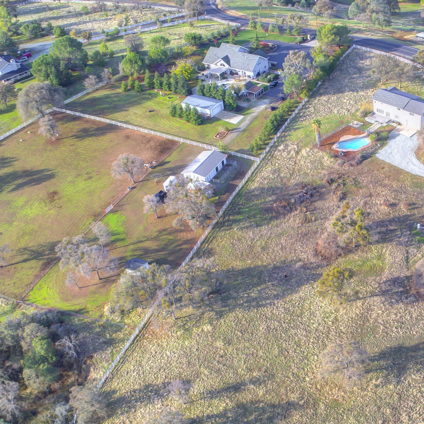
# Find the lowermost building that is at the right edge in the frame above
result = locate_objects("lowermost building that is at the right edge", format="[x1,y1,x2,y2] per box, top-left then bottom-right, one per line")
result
[372,84,424,128]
